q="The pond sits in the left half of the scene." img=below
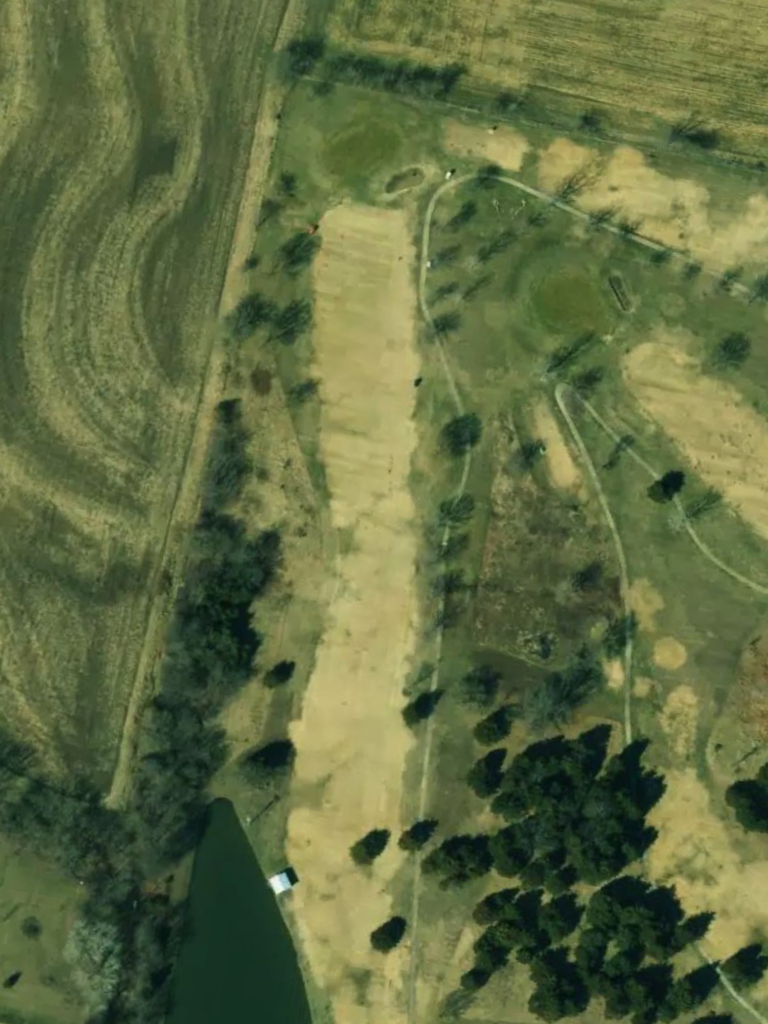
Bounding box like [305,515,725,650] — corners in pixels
[169,796,312,1024]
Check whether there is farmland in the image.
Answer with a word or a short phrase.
Yes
